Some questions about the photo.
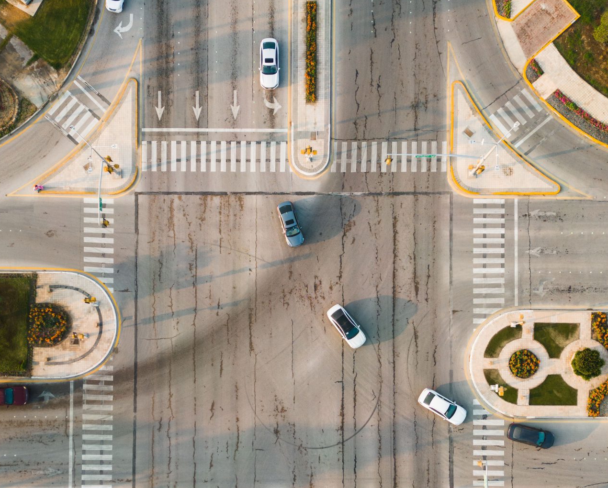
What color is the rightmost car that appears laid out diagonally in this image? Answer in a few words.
white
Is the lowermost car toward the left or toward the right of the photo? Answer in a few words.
right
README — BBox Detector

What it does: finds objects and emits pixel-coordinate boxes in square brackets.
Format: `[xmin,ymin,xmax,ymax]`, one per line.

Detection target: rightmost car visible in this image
[506,423,555,449]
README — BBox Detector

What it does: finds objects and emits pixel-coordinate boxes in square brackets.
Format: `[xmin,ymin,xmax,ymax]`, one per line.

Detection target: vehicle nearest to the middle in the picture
[276,200,305,249]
